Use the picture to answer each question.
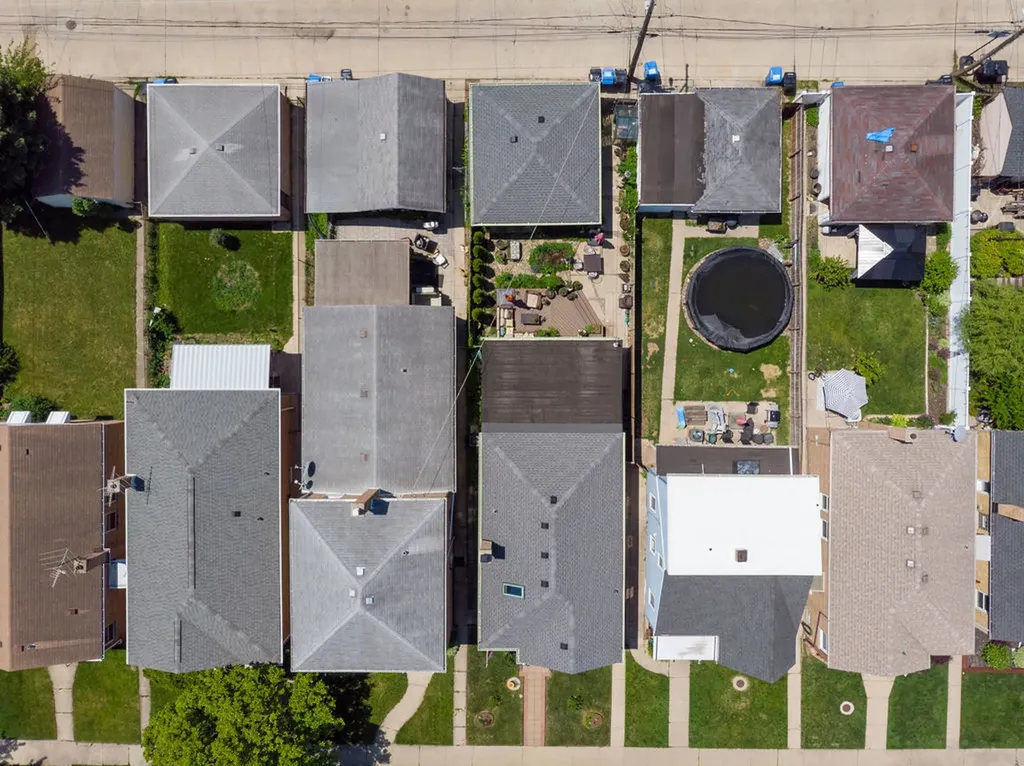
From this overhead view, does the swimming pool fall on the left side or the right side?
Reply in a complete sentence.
The swimming pool appears in the right half of the scene.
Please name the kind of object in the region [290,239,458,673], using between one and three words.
house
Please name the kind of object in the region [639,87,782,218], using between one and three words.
building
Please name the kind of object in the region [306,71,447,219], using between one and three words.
building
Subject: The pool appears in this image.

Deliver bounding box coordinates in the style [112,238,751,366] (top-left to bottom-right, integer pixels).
[681,247,795,352]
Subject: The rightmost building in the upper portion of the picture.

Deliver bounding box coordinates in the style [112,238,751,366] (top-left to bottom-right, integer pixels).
[974,96,1024,184]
